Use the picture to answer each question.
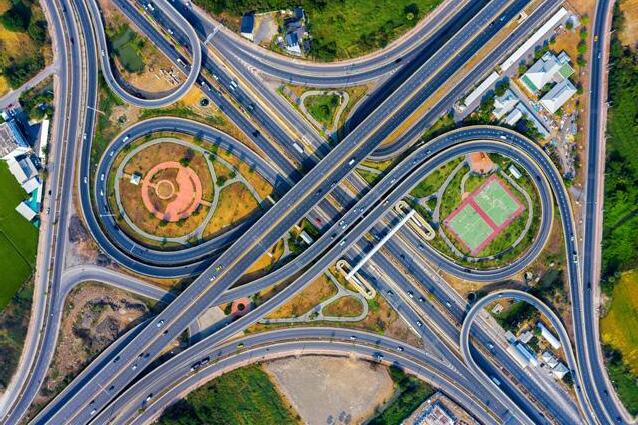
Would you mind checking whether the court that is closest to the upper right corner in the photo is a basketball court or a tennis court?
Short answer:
basketball court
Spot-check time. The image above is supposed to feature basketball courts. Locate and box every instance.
[442,198,497,255]
[468,176,525,231]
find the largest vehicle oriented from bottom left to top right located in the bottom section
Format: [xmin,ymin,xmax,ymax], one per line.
[190,355,210,372]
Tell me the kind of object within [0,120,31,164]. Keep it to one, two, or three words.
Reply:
building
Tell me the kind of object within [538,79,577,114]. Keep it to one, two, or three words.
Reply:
building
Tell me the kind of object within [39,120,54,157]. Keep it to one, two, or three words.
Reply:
shed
